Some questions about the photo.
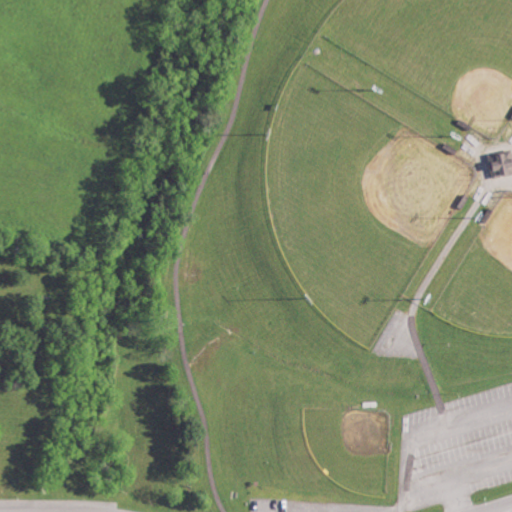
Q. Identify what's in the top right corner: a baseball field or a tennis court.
baseball field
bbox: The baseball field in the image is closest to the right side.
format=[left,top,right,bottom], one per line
[432,192,512,336]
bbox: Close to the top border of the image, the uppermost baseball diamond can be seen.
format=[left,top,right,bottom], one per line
[320,0,512,142]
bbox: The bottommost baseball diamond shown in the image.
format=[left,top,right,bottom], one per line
[304,408,390,498]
